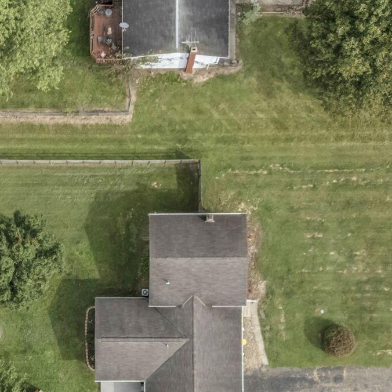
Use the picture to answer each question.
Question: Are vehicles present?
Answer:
No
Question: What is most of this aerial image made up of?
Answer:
grass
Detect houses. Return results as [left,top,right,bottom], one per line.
[95,211,257,392]
[122,0,230,74]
